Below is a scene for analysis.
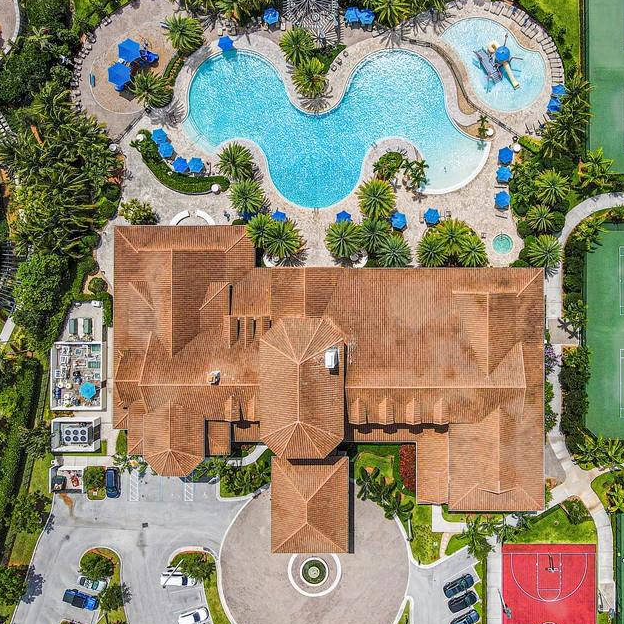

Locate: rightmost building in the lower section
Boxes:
[114,226,544,552]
